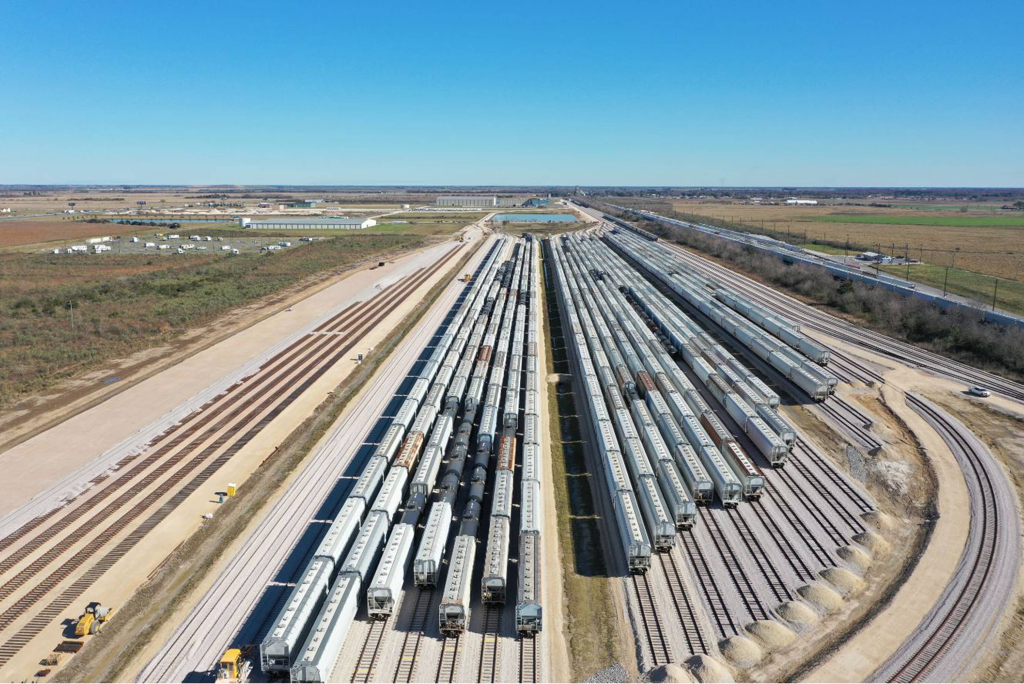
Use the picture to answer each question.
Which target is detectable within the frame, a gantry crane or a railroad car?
railroad car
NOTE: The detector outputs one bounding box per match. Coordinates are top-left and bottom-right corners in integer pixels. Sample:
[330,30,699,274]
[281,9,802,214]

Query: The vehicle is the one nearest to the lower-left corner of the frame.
[68,604,117,637]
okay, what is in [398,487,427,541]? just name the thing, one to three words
rail car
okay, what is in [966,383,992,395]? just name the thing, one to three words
vehicle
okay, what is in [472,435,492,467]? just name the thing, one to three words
rail car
